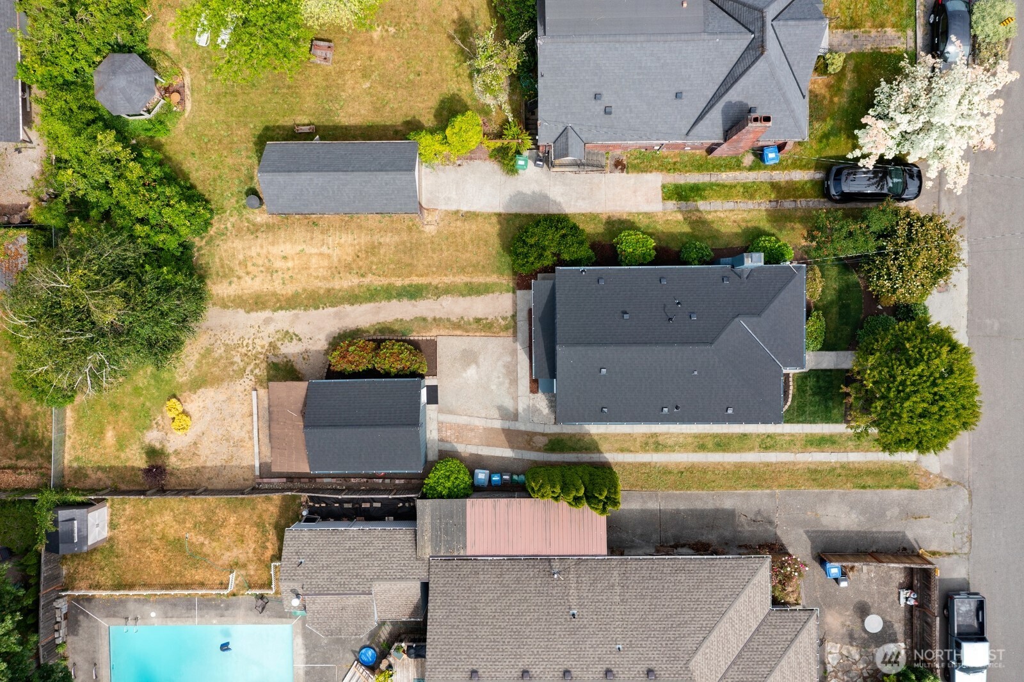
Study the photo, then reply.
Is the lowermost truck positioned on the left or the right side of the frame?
right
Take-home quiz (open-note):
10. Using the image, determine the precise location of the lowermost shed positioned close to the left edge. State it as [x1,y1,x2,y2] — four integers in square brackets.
[47,501,113,554]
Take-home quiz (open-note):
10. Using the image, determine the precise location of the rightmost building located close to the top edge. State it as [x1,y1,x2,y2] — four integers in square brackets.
[521,0,839,175]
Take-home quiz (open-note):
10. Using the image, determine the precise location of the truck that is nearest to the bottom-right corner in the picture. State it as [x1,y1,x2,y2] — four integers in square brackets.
[941,589,994,682]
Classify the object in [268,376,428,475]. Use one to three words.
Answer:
building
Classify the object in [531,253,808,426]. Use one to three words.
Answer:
house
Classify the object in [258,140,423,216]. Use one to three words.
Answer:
building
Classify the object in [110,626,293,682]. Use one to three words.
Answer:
swimming pool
